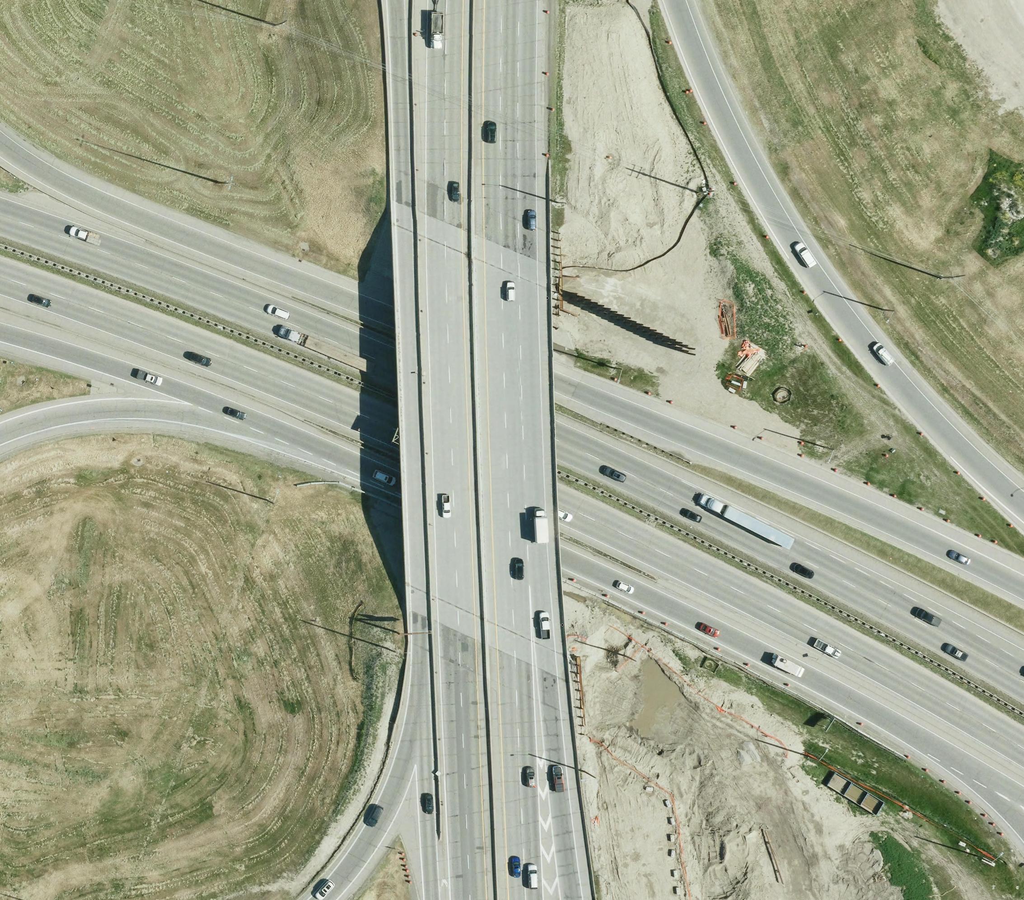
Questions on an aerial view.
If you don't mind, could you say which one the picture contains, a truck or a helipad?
truck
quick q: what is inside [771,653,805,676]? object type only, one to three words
camper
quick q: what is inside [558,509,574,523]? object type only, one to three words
car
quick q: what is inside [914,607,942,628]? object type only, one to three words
truck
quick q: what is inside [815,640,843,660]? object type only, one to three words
vehicle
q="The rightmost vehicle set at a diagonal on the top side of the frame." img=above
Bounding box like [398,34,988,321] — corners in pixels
[874,344,894,365]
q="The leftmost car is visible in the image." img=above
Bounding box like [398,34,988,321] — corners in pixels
[29,294,52,307]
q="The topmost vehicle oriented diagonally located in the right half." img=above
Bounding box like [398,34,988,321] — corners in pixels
[796,243,815,267]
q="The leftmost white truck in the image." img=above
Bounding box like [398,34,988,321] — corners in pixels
[68,226,103,247]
